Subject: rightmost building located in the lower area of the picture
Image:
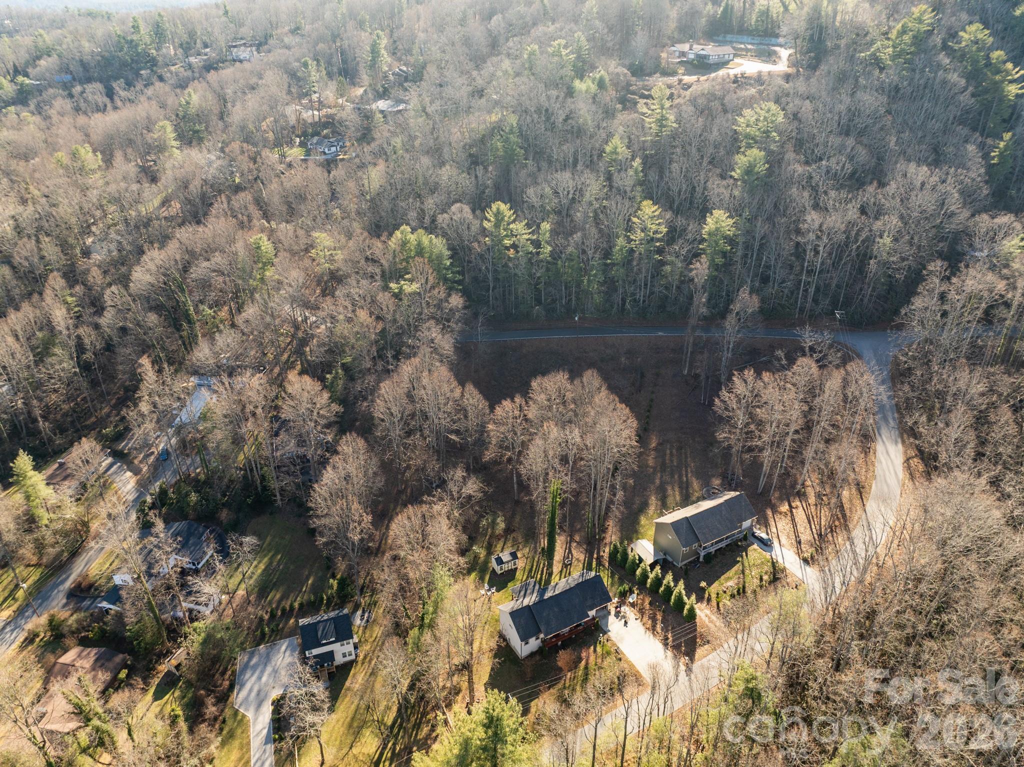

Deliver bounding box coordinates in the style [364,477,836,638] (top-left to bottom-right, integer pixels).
[655,491,762,567]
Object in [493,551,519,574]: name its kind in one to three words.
shed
